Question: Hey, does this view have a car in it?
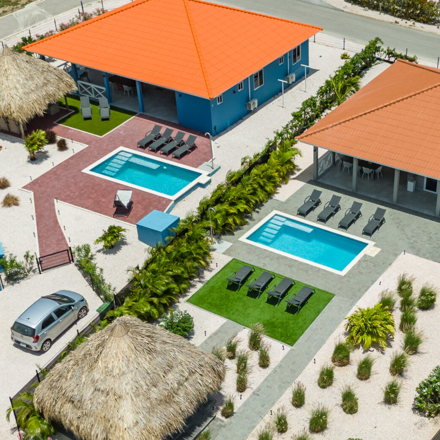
Yes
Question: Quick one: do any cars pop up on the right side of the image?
No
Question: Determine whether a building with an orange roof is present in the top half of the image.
Yes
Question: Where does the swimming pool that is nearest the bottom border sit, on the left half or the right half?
right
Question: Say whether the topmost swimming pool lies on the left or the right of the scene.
left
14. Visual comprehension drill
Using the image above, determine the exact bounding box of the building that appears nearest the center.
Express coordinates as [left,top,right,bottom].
[136,206,180,246]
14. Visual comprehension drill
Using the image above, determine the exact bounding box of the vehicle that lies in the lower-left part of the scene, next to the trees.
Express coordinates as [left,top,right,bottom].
[11,296,88,351]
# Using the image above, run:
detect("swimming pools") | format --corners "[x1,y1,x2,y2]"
[240,210,373,276]
[82,146,216,207]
